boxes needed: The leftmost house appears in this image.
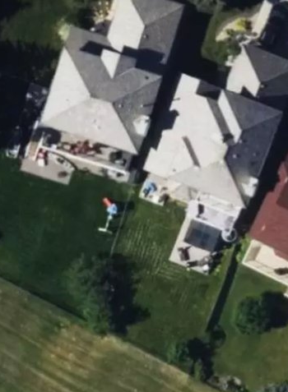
[26,0,185,173]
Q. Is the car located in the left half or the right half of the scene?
right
